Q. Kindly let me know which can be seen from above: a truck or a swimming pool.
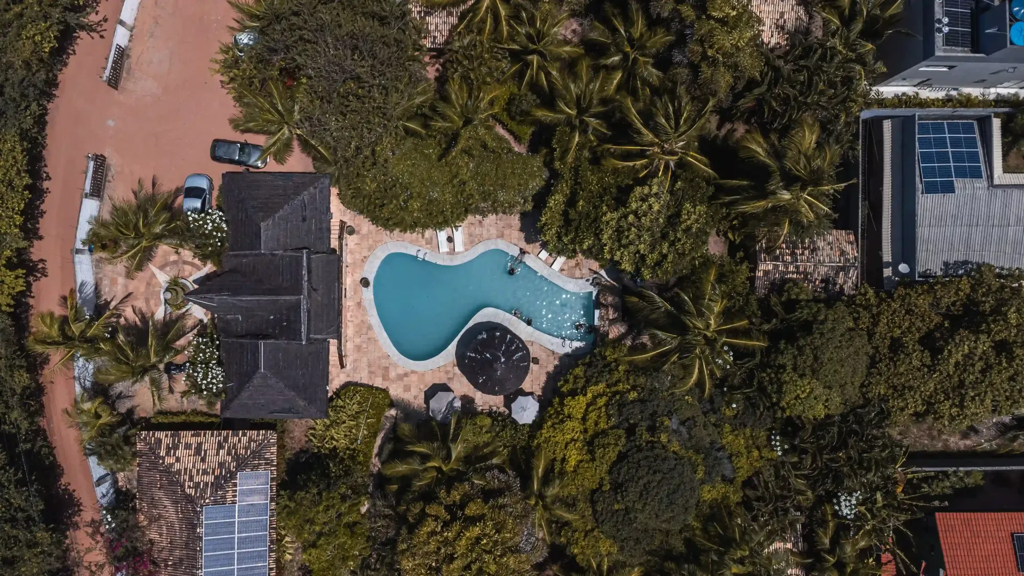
swimming pool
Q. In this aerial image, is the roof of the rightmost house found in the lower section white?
No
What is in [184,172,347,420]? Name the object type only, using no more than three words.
house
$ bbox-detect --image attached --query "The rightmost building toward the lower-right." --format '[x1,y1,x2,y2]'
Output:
[918,507,1024,576]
